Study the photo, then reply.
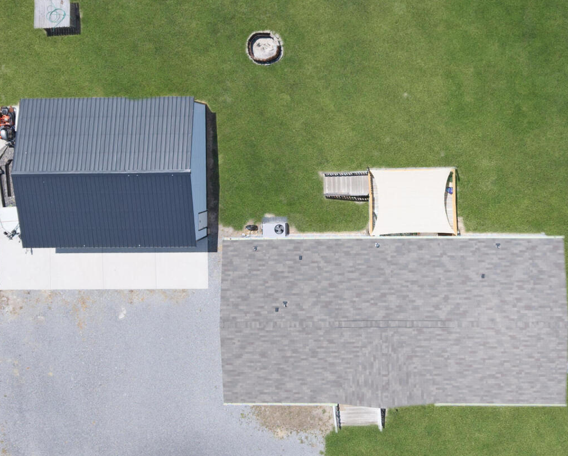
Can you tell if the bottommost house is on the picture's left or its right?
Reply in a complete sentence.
The bottommost house appears in the right half of the scene.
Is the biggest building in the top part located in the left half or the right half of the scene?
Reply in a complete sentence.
The biggest building in the top part is on the left side of the image.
